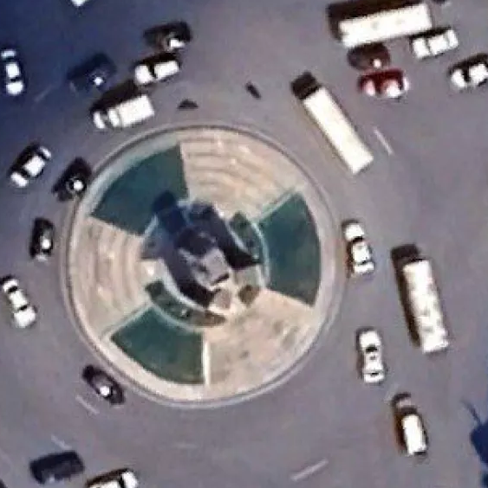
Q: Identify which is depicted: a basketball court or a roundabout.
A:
roundabout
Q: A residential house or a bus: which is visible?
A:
bus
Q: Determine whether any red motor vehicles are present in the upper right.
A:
Yes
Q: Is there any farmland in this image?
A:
No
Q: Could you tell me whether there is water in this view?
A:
No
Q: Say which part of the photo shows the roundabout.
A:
center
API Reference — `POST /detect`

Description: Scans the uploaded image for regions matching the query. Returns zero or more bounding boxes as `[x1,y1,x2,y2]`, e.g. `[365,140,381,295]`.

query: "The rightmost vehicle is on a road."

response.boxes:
[449,55,488,86]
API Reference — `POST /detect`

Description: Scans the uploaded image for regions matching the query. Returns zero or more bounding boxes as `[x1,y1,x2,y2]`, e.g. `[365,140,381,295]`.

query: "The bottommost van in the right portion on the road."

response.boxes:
[396,399,430,456]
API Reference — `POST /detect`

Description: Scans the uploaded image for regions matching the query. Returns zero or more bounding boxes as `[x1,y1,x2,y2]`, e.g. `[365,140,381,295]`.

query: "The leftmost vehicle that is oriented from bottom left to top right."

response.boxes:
[9,145,53,185]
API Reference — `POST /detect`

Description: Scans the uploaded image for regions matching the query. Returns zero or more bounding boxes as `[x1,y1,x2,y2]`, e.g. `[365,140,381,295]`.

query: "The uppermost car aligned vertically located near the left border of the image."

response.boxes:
[0,50,23,95]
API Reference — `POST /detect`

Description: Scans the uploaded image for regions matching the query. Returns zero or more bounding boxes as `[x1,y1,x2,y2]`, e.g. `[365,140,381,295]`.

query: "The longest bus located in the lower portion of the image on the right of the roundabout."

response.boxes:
[400,255,447,349]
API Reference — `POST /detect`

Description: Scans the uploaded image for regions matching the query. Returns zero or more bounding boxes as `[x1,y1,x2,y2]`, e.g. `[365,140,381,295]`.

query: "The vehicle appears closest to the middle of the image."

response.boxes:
[343,221,374,274]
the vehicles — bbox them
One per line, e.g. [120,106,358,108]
[357,331,385,382]
[87,471,136,488]
[449,55,488,86]
[298,85,370,171]
[146,24,190,49]
[68,57,114,84]
[334,1,430,47]
[343,221,374,274]
[31,220,53,260]
[348,45,391,69]
[134,55,181,84]
[396,399,430,456]
[92,90,155,123]
[361,74,406,94]
[82,365,125,405]
[400,255,447,349]
[9,145,53,185]
[55,160,92,200]
[31,451,83,483]
[410,29,458,55]
[0,276,38,328]
[0,50,23,95]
